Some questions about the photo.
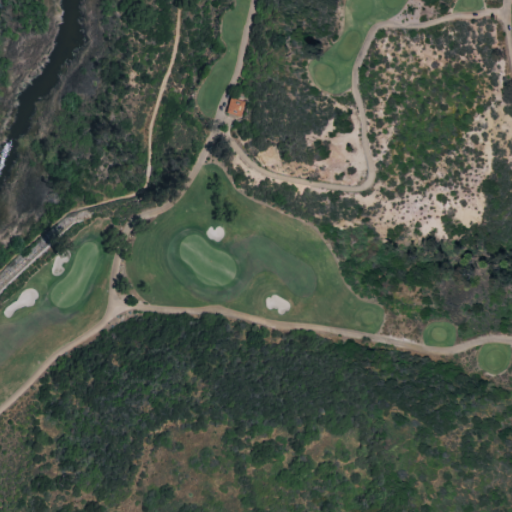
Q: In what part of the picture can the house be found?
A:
top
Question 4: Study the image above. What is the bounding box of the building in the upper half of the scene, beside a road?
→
[227,94,246,120]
